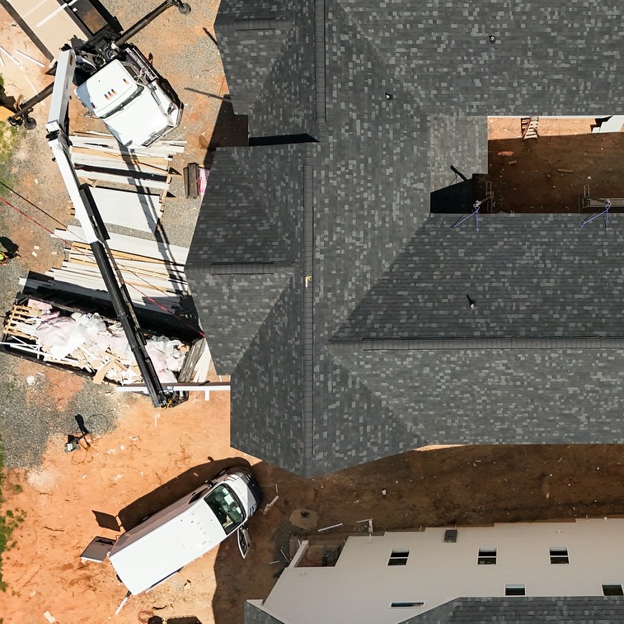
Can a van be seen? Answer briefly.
Yes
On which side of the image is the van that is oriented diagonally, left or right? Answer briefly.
left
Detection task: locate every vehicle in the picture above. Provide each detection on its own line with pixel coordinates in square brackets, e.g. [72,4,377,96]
[7,0,194,404]
[90,463,273,611]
